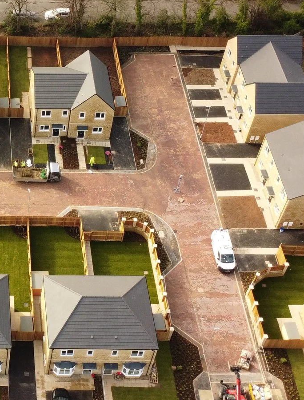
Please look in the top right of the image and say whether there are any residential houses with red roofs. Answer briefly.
No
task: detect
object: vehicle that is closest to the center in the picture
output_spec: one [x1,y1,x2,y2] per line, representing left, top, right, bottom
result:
[212,228,236,272]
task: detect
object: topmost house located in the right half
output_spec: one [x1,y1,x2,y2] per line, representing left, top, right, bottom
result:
[216,34,304,141]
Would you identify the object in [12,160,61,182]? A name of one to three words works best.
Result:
truck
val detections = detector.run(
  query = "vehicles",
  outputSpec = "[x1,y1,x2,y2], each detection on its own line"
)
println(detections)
[12,160,61,182]
[212,228,236,272]
[51,388,69,400]
[218,360,249,400]
[42,7,72,18]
